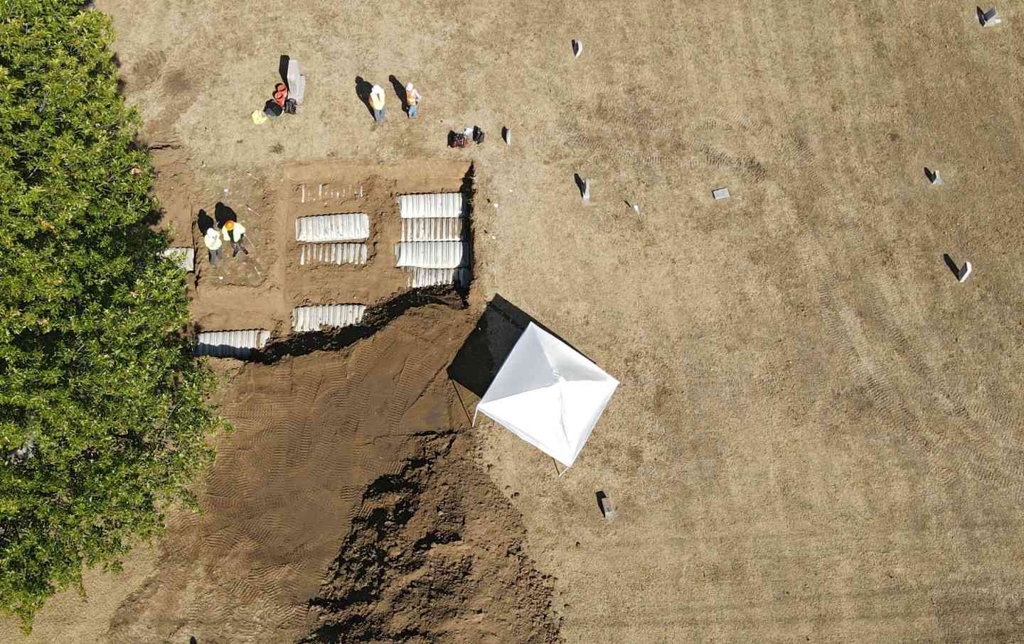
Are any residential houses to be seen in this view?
No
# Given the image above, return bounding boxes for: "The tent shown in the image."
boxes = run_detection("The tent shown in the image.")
[472,325,621,479]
